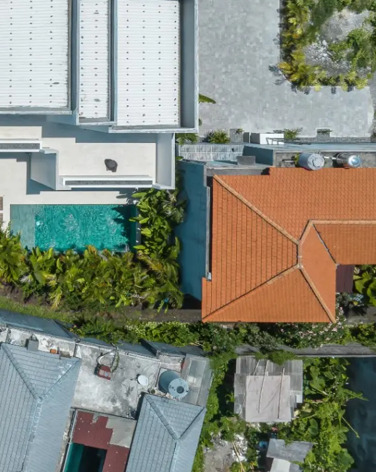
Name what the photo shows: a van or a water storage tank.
water storage tank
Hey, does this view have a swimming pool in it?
Yes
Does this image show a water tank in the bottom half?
Yes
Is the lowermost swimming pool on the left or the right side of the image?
left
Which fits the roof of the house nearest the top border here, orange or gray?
orange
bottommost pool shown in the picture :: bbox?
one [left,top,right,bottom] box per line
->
[9,205,136,253]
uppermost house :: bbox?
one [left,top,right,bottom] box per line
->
[182,166,376,324]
